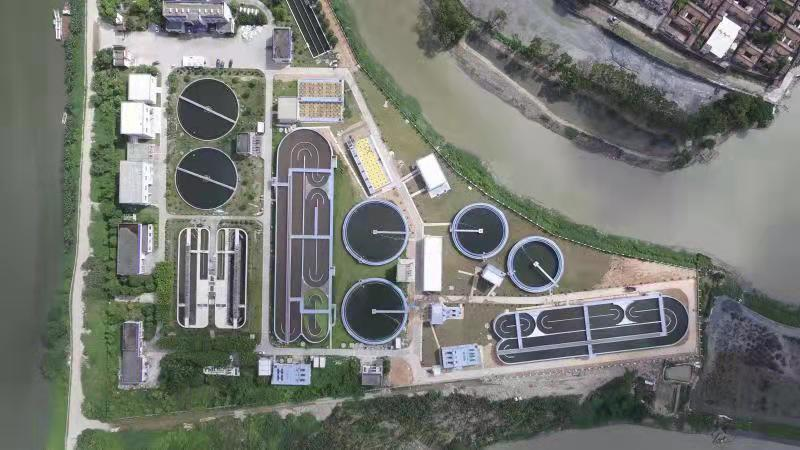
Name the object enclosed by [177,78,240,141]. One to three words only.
water tank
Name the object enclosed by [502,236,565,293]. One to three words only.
water tank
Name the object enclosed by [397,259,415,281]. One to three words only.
building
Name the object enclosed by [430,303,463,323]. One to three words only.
house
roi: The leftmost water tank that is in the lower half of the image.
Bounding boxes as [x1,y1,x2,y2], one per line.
[177,227,212,329]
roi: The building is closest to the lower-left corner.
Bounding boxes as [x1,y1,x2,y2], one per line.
[120,320,149,388]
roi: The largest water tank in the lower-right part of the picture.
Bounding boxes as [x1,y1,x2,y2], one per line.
[492,293,689,365]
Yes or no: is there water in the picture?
Yes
